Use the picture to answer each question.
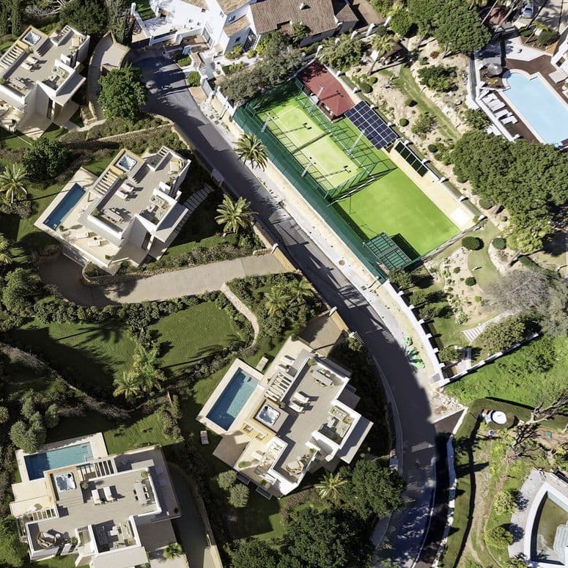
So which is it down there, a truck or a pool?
pool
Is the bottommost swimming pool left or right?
right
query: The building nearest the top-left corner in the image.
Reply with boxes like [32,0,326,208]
[0,27,102,144]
